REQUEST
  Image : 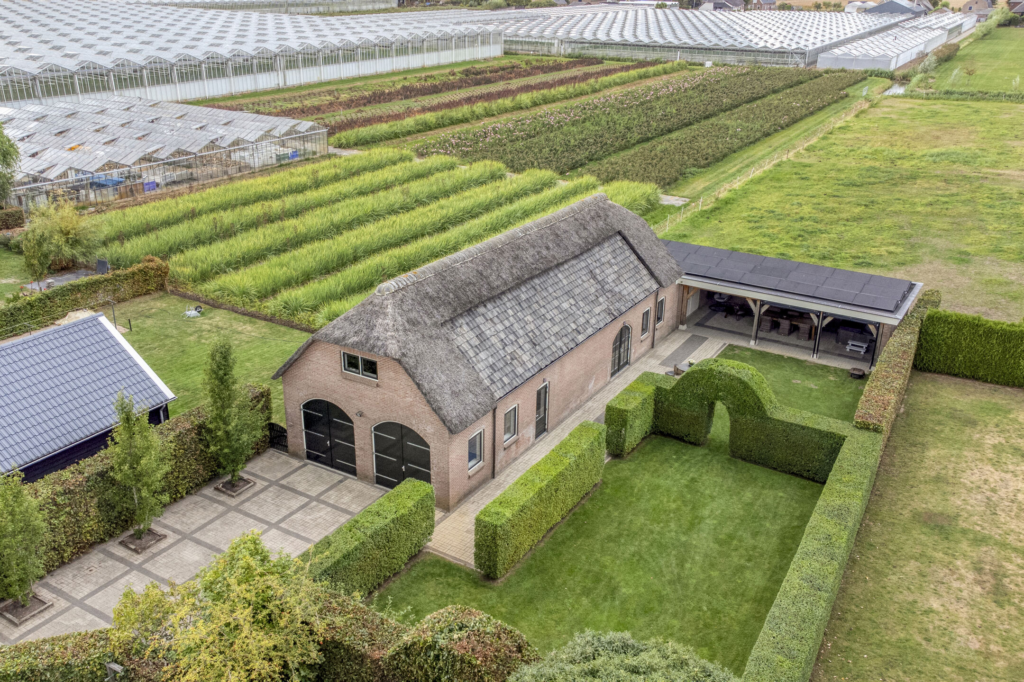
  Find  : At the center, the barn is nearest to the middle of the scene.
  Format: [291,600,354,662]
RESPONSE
[267,189,712,513]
